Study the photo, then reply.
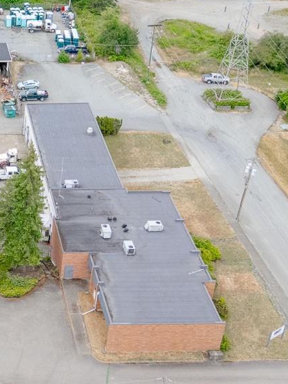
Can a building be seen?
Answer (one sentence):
Yes, a building can be made out from above.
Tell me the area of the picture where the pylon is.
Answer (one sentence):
The pylon is in the top right part of the image.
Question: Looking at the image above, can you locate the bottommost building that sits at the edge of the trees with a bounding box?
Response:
[29,103,227,353]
